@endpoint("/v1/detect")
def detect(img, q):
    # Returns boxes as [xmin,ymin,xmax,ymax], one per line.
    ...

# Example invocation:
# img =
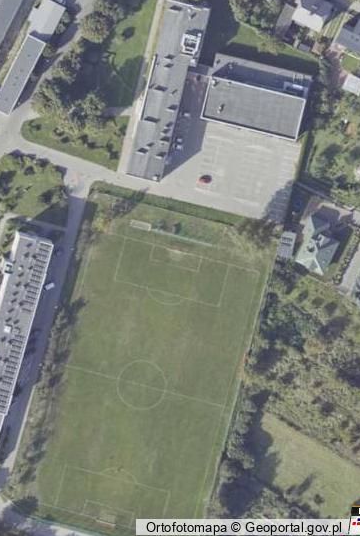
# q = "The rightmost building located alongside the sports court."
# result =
[294,210,338,272]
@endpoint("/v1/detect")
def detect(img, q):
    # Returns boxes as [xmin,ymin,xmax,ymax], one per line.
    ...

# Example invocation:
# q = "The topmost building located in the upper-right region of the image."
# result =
[292,0,335,32]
